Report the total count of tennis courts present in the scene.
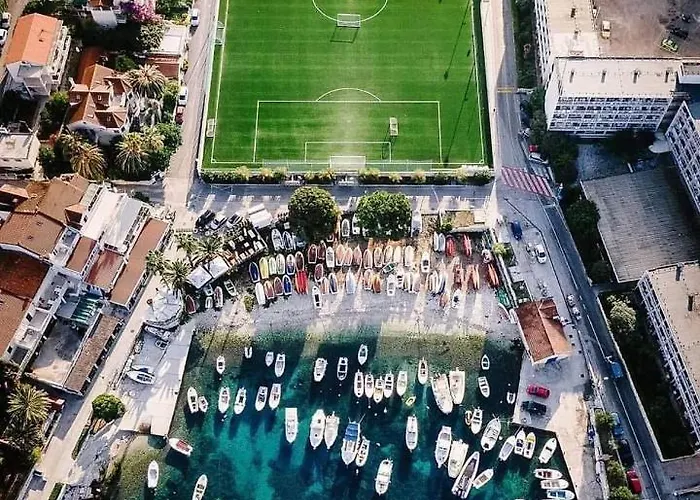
0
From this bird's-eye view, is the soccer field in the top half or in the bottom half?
top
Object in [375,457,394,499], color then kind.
white boat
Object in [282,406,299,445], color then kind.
white boat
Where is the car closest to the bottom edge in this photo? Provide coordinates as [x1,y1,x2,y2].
[625,469,644,496]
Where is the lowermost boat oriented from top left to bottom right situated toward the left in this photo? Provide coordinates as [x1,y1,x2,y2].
[168,437,195,458]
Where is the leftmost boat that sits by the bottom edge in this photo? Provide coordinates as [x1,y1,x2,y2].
[146,449,159,491]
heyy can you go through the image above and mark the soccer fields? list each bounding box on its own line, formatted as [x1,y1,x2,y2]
[197,0,488,170]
